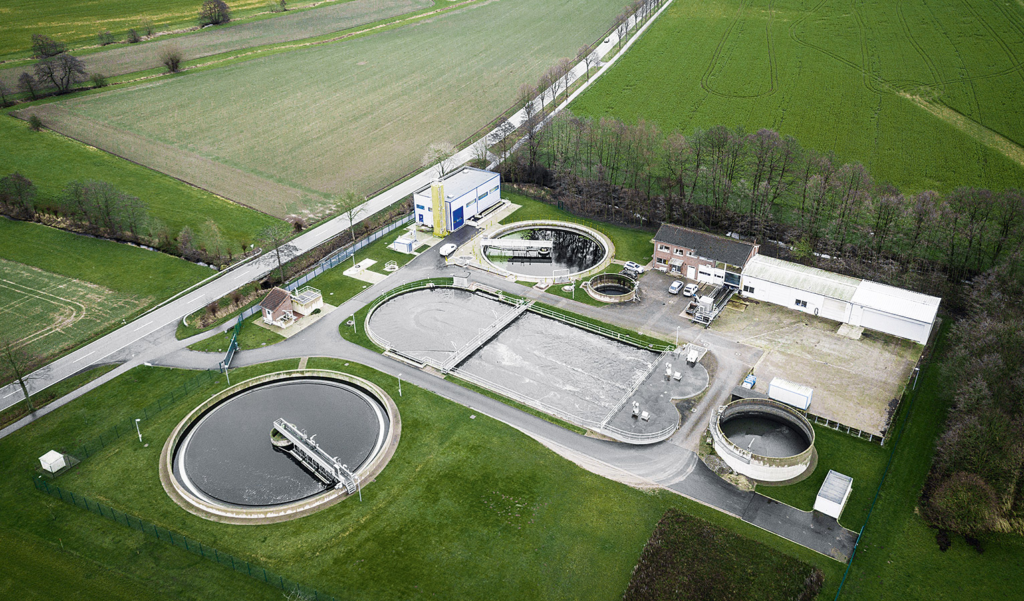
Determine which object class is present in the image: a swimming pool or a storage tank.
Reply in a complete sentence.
Looking from above, you can make out a storage tank.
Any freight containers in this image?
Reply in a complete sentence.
Yes, this view includes a freight container.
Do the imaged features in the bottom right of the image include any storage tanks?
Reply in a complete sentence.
Yes, a storage tank appears in the bottom right of the image.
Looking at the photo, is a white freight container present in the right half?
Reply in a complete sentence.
Yes, a white freight container is visible in the right half.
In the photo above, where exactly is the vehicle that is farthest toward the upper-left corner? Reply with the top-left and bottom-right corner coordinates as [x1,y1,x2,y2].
[438,238,461,254]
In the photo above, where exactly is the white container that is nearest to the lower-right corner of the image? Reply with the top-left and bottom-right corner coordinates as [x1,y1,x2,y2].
[771,378,814,410]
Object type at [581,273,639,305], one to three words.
storage tank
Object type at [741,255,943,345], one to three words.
building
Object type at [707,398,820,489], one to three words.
storage tank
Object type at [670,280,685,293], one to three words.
vehicle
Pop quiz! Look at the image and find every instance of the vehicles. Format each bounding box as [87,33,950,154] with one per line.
[617,266,639,279]
[438,238,461,254]
[670,280,685,293]
[621,260,644,273]
[686,283,699,295]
